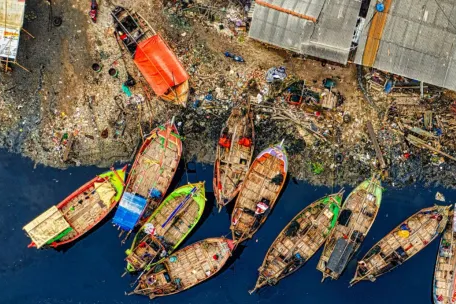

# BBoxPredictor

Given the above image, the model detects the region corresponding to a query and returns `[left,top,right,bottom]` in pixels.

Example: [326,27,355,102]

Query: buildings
[354,0,456,97]
[248,0,363,66]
